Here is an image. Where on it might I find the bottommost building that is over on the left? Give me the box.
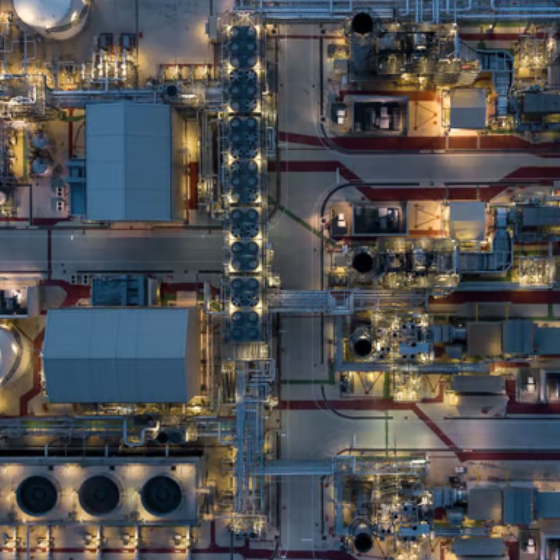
[40,309,203,408]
